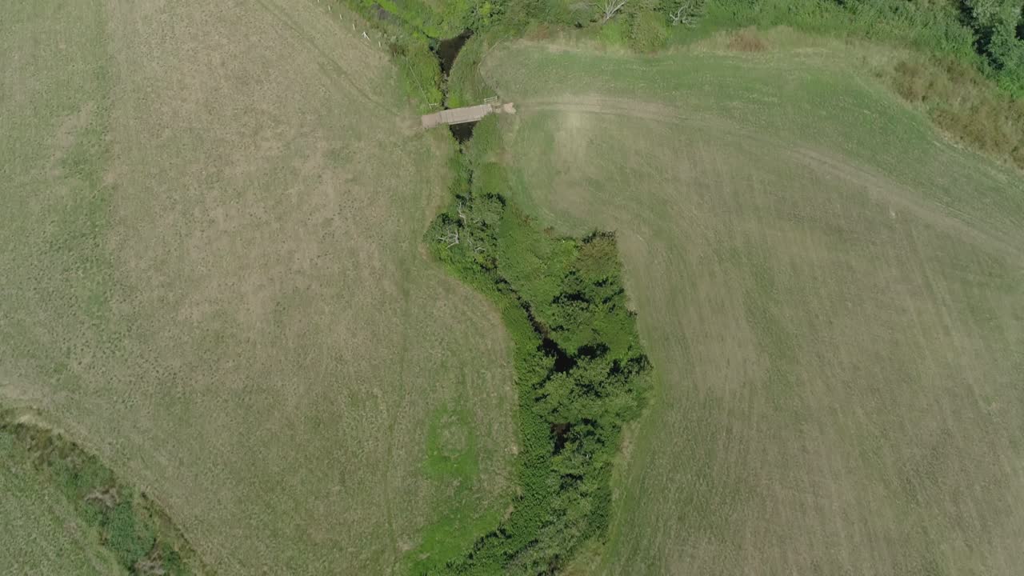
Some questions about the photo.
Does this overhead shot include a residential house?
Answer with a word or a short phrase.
No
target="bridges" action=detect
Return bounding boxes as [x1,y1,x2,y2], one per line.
[421,104,497,128]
